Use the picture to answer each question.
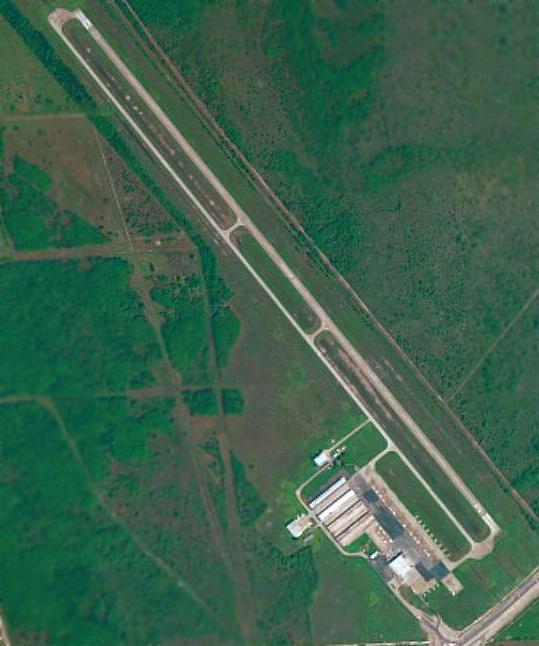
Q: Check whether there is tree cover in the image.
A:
Yes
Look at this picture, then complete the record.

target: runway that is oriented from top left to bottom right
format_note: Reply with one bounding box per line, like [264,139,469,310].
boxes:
[74,9,502,535]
